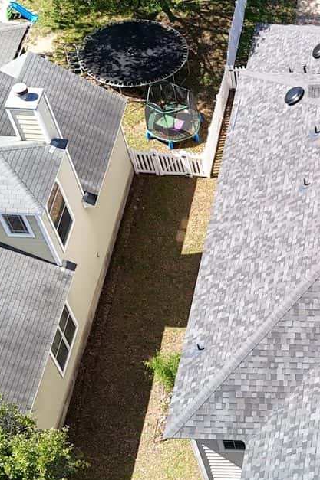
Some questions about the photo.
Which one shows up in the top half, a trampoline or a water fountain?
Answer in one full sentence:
You can see a trampoline in the top half.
